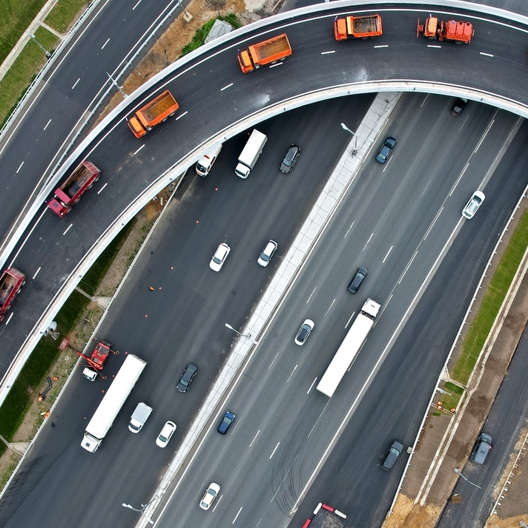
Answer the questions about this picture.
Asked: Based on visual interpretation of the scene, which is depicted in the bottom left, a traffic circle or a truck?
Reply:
truck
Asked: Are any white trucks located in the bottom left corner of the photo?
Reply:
Yes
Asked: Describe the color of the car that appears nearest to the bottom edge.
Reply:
white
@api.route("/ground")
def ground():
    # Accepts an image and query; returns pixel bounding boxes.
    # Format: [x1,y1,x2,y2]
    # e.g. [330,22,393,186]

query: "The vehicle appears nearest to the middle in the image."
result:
[257,237,279,267]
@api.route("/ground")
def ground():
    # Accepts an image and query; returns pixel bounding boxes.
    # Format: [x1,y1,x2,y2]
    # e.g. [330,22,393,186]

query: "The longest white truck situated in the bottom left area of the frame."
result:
[78,353,149,454]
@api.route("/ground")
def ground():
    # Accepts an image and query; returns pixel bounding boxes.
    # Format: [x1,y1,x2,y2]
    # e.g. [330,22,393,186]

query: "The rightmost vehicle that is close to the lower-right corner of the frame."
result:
[469,431,492,464]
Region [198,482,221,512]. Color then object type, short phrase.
white car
